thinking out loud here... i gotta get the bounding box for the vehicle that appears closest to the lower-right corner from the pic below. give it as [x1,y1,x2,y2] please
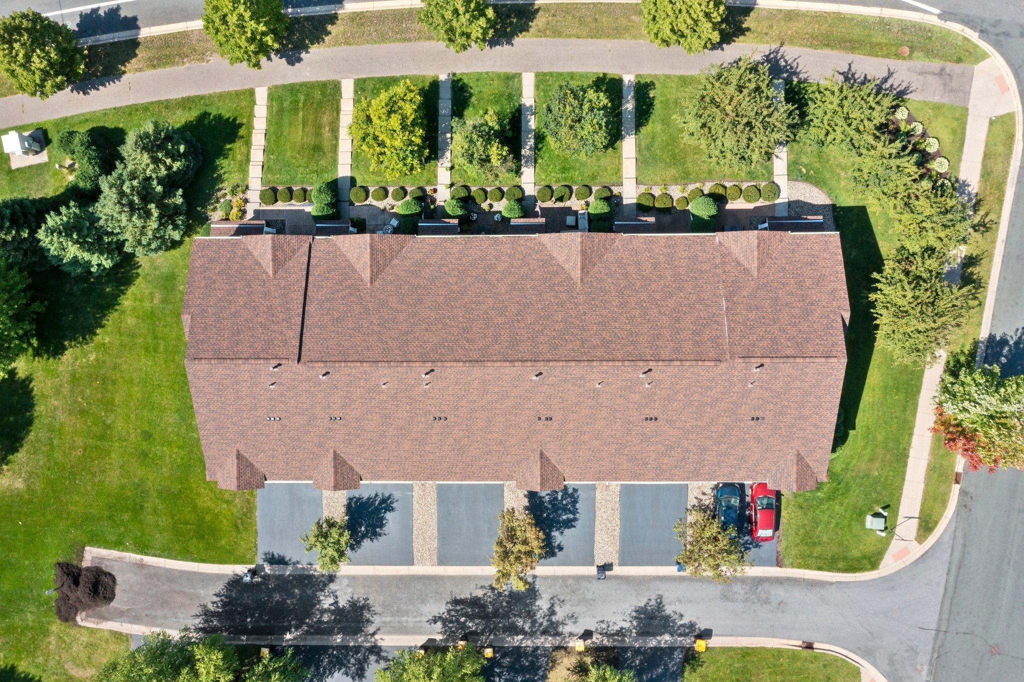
[748,484,780,542]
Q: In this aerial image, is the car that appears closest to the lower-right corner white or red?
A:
red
